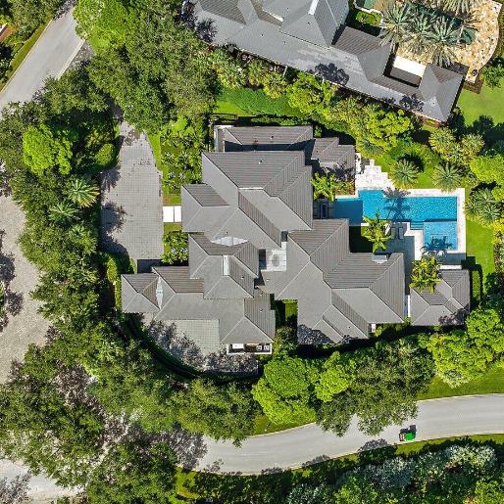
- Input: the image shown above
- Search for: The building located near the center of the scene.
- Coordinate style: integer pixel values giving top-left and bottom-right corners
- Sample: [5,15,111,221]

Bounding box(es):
[121,125,410,345]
